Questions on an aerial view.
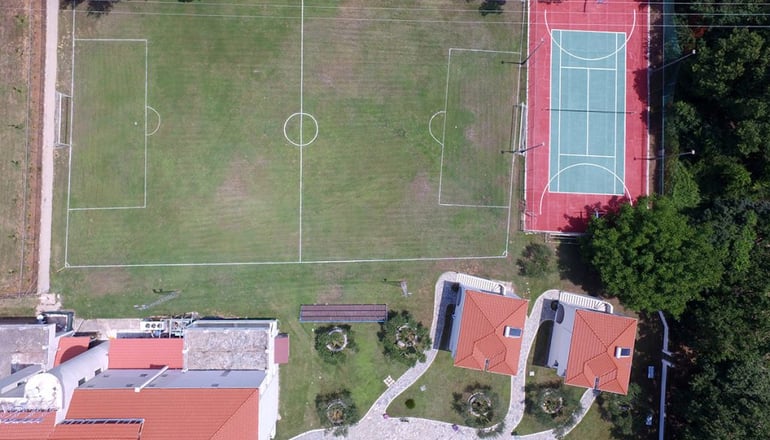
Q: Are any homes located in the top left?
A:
No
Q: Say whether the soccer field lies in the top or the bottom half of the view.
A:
top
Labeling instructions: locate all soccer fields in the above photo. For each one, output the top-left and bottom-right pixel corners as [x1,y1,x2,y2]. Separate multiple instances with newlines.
[65,0,526,266]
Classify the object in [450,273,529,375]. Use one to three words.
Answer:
house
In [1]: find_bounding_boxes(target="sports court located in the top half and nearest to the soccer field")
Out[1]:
[526,0,652,238]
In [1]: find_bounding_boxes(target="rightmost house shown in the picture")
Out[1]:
[549,290,639,394]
